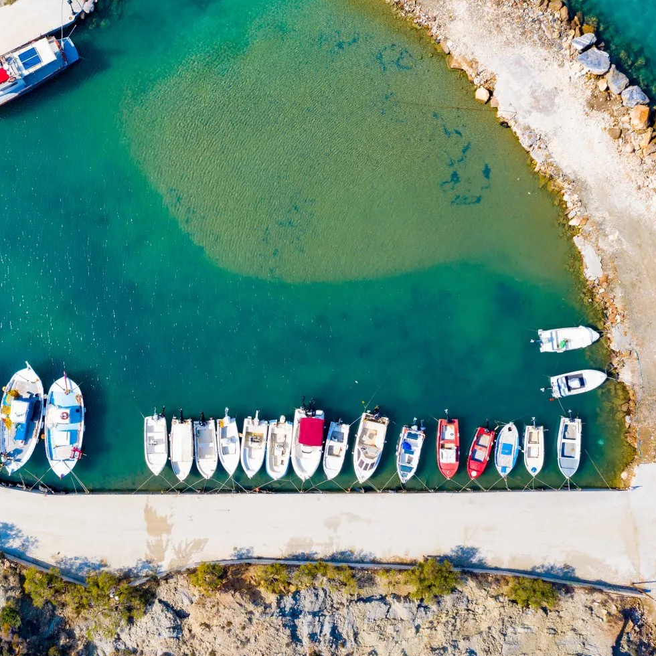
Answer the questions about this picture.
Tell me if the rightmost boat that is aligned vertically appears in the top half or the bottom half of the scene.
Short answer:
bottom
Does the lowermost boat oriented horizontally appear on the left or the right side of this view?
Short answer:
right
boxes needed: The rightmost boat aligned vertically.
[555,409,582,491]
